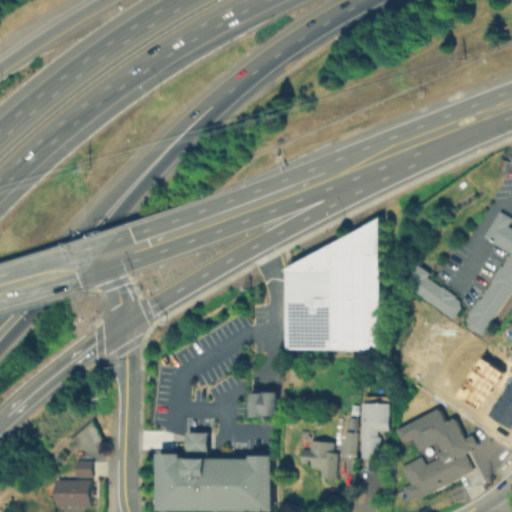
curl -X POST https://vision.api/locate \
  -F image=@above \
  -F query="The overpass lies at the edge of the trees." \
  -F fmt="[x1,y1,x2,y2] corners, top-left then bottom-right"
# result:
[0,218,146,315]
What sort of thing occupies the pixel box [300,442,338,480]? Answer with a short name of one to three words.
house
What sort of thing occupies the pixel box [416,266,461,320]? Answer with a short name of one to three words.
building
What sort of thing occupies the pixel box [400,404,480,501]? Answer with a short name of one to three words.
building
